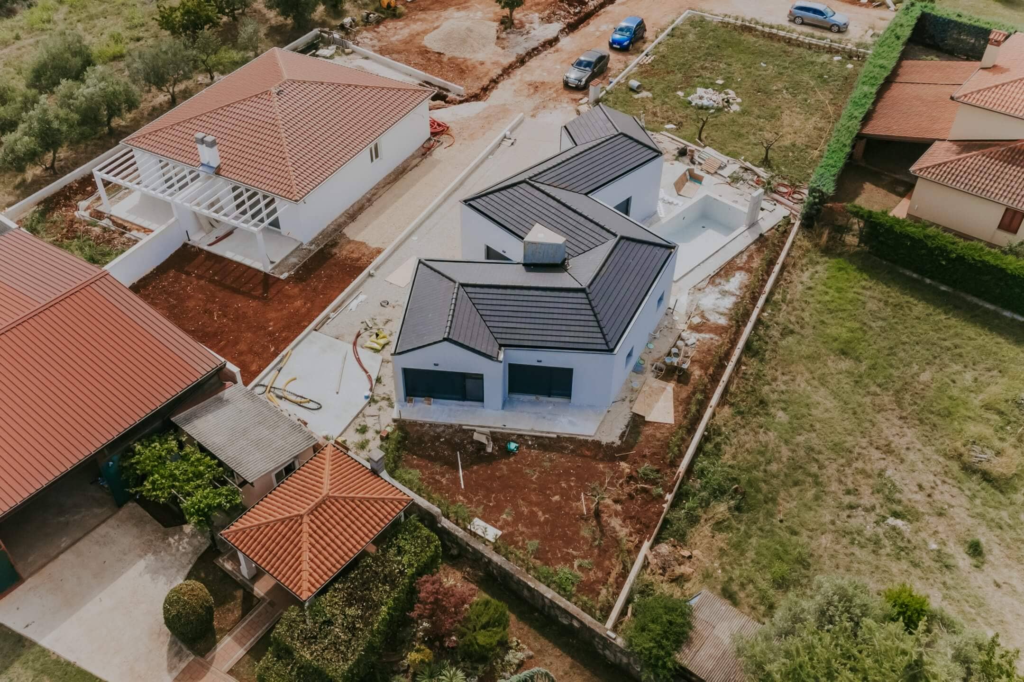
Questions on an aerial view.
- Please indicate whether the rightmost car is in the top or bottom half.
top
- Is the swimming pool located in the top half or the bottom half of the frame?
top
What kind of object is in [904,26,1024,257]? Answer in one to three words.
house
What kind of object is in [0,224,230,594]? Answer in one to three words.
shed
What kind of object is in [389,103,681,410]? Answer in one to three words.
house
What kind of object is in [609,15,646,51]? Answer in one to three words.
car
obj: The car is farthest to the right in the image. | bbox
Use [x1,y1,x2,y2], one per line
[790,0,853,32]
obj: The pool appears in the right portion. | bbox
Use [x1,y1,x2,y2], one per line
[646,188,756,281]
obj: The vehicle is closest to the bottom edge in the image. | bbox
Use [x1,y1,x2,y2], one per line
[565,49,610,88]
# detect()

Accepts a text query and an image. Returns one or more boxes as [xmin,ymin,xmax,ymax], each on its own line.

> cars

[609,15,646,51]
[565,49,610,88]
[790,0,853,32]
